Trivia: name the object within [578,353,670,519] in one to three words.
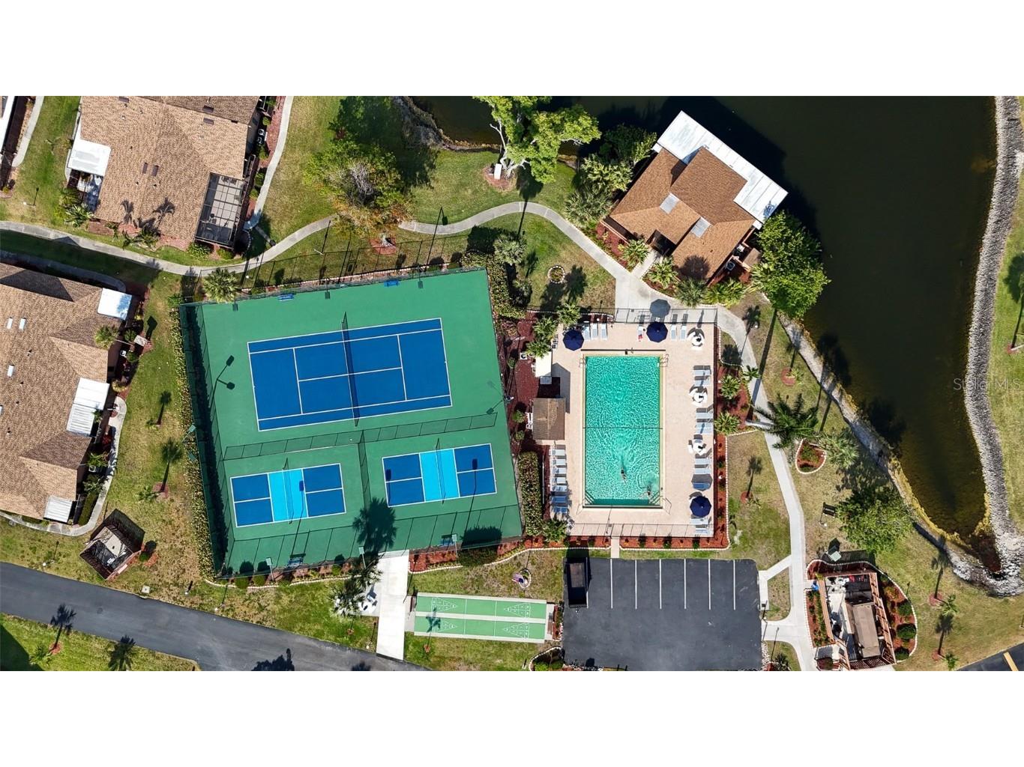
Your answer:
swimming pool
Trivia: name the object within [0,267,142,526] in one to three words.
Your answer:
house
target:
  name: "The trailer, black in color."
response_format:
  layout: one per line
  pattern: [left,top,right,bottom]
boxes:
[566,564,589,619]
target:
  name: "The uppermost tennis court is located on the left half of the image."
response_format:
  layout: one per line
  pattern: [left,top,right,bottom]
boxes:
[184,271,512,462]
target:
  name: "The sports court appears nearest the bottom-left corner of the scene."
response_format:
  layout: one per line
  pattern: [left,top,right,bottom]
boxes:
[213,444,370,574]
